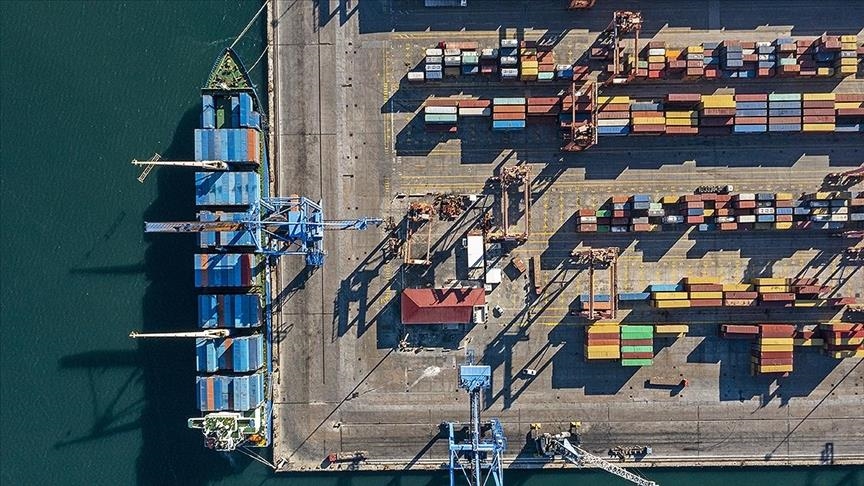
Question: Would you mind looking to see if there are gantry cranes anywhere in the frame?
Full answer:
Yes, a gantry crane appears in the view.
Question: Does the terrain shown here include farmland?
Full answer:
No, farmland can't be seen anywhere here.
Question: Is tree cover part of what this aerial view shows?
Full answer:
No, the scene doesn't show any tree cover.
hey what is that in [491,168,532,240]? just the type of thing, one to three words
container crane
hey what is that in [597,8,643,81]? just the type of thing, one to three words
container crane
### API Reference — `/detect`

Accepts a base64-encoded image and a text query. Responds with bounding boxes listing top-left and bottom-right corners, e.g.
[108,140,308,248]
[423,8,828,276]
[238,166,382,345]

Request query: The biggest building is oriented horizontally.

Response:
[402,287,485,326]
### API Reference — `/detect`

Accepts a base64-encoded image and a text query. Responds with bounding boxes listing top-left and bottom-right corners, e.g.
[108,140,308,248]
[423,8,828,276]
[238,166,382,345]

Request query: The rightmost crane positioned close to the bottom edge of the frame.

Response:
[532,422,660,486]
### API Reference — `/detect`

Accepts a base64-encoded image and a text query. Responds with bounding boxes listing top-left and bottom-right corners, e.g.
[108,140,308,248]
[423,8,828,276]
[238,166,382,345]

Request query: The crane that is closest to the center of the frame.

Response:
[402,211,438,265]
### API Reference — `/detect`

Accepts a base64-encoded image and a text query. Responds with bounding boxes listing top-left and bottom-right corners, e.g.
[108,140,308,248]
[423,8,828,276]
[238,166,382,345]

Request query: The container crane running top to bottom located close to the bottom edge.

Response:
[439,346,506,486]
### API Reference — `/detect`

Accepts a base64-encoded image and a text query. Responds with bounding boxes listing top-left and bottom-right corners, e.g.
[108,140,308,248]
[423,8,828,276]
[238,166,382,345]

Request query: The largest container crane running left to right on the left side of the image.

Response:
[143,194,380,261]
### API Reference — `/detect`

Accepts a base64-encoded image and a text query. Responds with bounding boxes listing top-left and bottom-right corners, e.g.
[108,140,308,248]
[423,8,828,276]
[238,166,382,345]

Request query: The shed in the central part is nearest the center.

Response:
[467,232,484,266]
